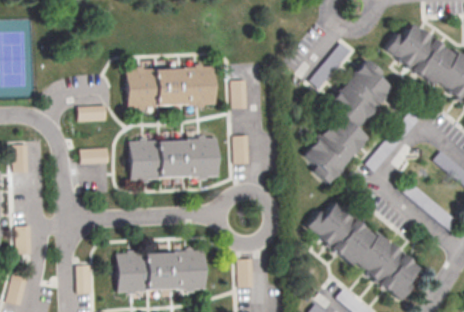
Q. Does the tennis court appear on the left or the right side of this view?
left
